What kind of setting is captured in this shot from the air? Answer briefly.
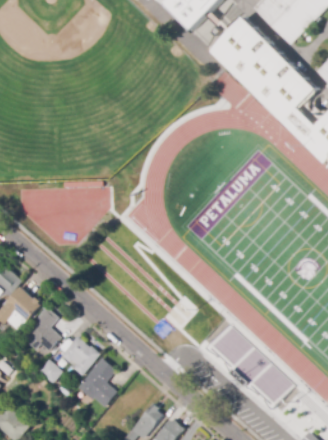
sports ground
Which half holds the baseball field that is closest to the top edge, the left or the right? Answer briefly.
left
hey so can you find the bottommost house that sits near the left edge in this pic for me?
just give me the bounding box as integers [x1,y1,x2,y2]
[0,410,29,440]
